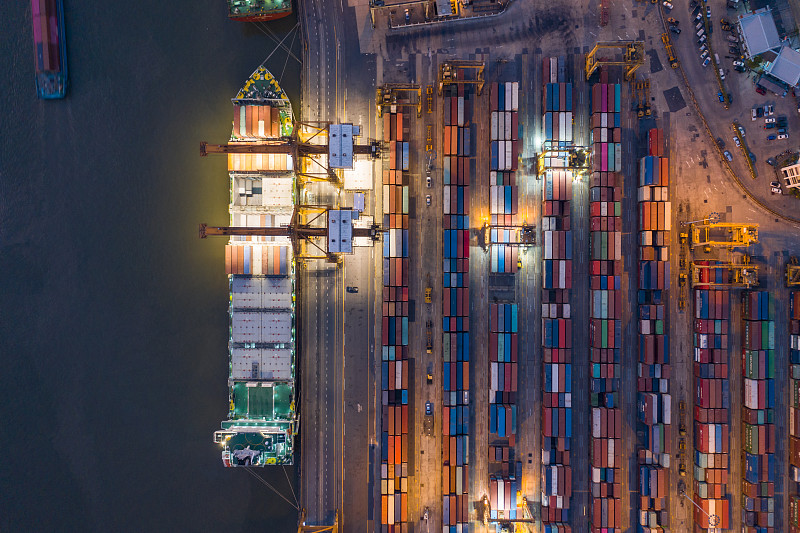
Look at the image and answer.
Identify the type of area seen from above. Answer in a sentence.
What you see here is a port.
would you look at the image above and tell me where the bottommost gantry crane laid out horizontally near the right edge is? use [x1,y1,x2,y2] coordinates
[690,259,760,291]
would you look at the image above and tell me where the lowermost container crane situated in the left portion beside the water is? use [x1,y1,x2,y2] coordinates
[295,509,338,533]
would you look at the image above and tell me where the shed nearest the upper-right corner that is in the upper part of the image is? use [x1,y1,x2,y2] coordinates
[765,0,797,38]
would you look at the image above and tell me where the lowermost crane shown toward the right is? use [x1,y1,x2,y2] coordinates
[483,492,539,533]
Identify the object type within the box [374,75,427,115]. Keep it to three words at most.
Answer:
container crane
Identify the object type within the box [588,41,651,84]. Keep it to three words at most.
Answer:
container crane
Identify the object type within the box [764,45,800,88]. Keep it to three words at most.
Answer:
building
